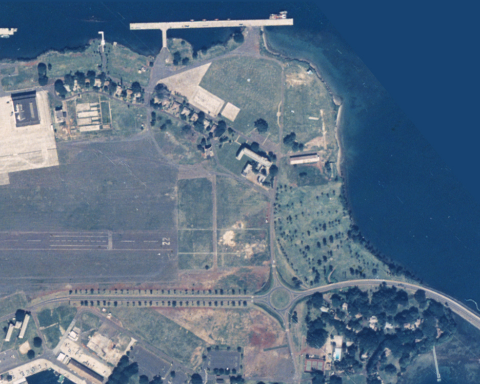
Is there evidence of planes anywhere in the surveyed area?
No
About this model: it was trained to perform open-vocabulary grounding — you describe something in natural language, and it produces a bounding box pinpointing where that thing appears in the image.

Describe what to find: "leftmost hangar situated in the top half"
[11,92,40,127]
